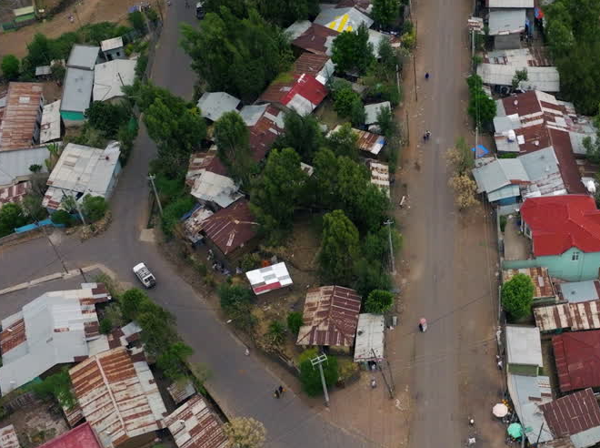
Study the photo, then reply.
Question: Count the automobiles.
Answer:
1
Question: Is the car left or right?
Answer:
left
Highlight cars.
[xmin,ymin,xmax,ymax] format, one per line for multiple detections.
[132,264,155,287]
